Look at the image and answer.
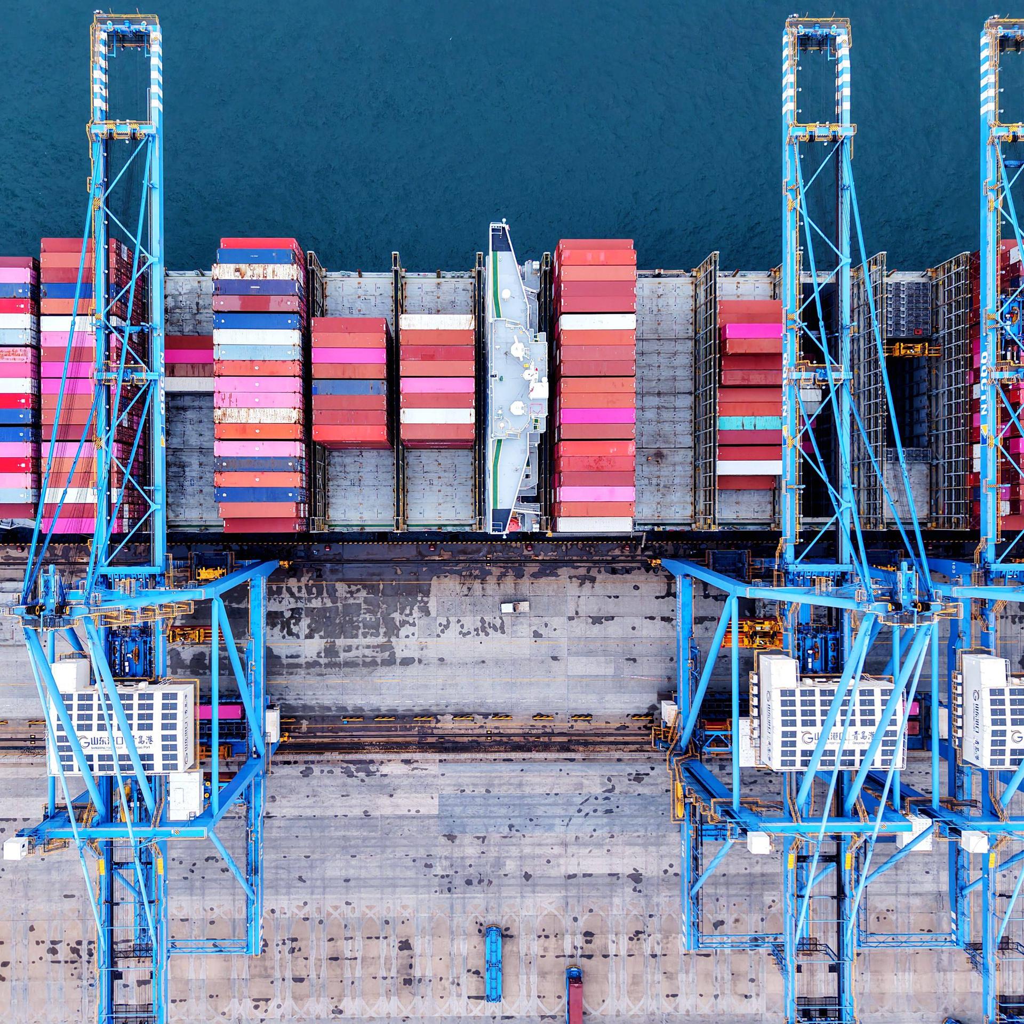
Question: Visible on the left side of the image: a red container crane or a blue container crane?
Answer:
blue container crane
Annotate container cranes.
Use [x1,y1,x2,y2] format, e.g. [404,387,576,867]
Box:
[649,0,948,1024]
[0,0,288,1024]
[799,0,1024,1024]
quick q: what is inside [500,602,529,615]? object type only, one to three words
vehicle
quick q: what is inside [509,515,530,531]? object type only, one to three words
boat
